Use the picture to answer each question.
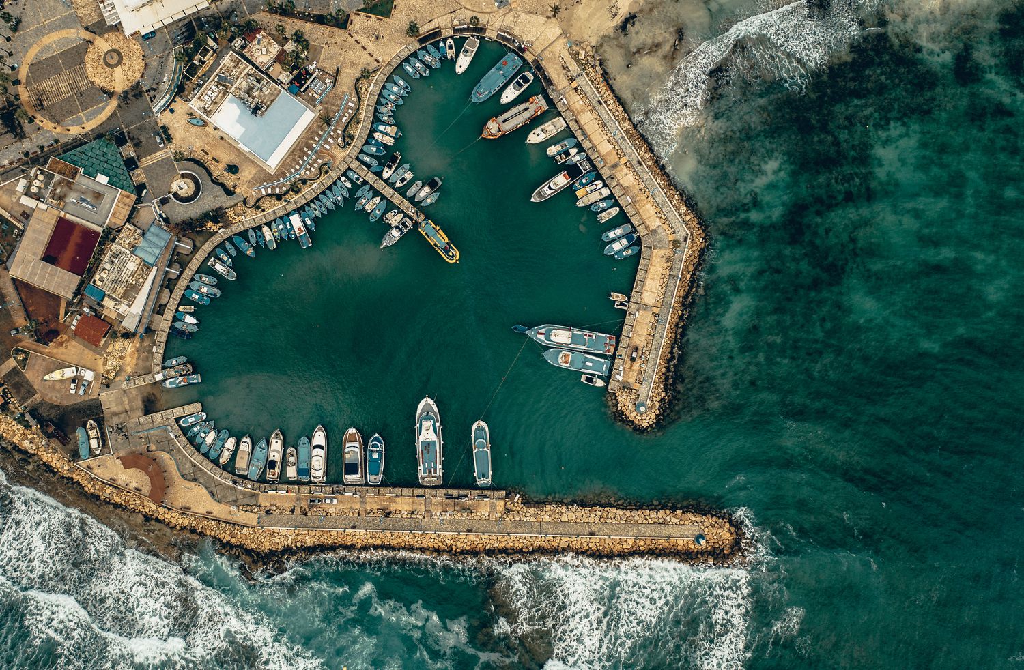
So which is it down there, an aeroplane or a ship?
ship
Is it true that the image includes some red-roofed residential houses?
Yes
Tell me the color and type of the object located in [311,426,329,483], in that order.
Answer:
white boat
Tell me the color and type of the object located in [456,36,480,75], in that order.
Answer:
white boat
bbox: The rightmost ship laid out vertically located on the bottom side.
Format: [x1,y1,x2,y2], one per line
[471,421,493,487]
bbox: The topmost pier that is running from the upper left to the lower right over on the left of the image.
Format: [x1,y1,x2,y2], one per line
[346,157,426,224]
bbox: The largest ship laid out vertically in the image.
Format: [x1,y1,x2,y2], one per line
[415,397,444,486]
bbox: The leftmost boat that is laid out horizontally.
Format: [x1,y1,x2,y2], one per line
[43,365,79,381]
